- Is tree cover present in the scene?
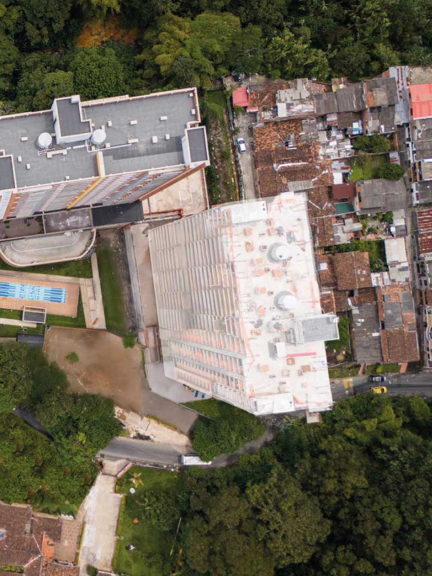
Yes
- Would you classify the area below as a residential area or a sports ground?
residential area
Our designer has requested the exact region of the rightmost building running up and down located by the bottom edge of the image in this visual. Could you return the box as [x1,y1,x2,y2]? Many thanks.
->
[56,518,82,563]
